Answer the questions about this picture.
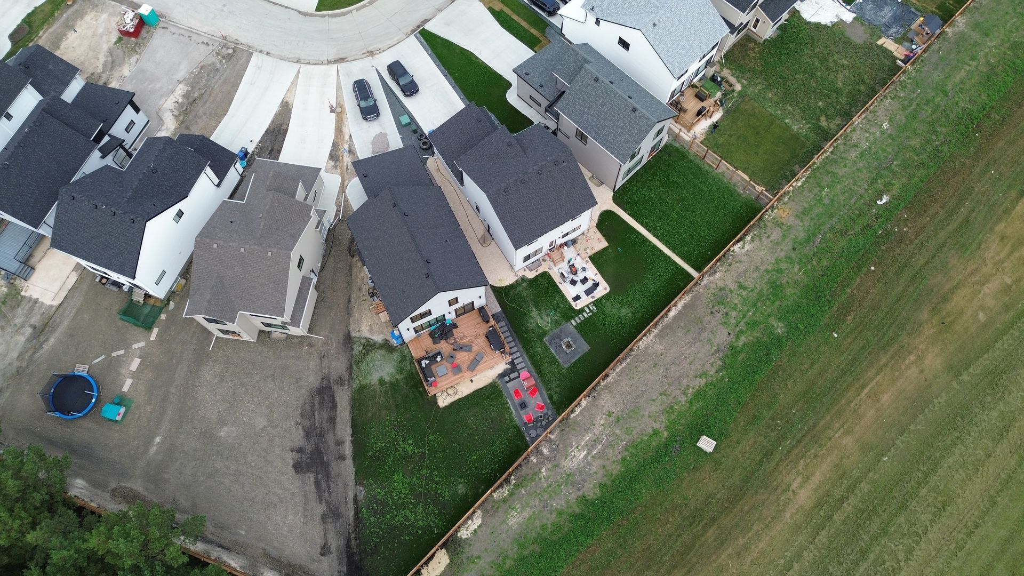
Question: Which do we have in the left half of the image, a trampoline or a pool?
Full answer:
Looking in the left half of the image, you will find a trampoline.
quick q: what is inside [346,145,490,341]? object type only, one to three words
house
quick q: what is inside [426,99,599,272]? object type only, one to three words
house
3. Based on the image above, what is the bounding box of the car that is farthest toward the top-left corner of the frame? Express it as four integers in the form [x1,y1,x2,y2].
[352,76,378,119]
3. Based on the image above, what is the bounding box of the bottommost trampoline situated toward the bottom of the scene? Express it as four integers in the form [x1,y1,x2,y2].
[37,371,105,421]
